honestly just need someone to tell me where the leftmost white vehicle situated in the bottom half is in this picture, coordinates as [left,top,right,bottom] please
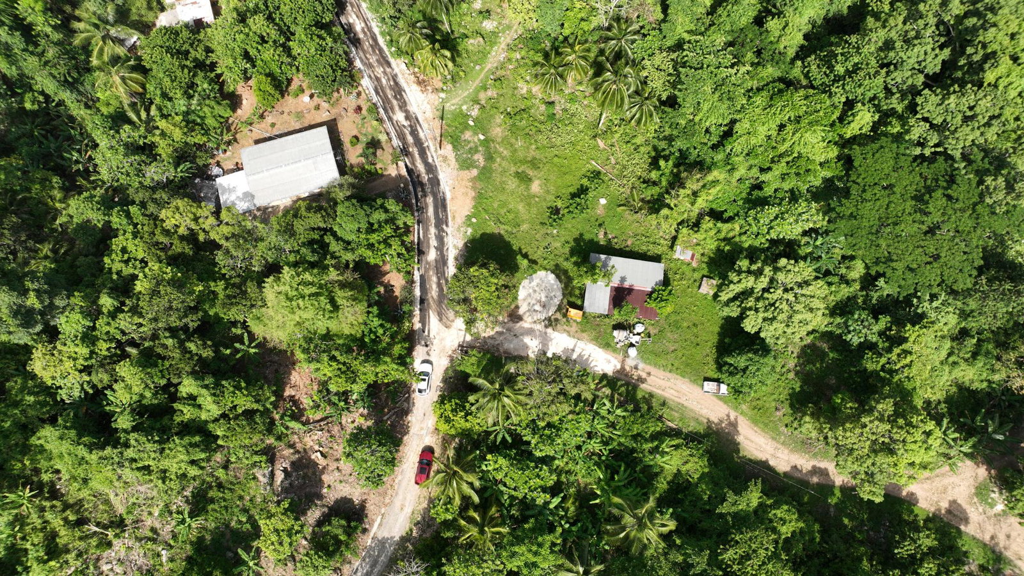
[417,361,435,396]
